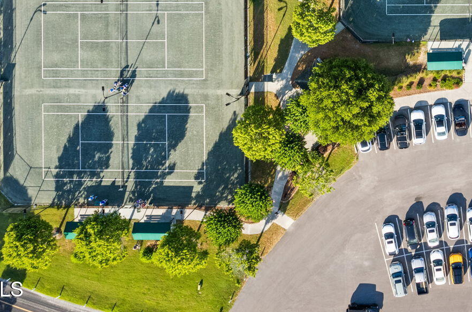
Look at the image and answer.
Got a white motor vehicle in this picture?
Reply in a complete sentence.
Yes, the frame does contain a white motor vehicle.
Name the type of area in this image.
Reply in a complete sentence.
It's a sports ground.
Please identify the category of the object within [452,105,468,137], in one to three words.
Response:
car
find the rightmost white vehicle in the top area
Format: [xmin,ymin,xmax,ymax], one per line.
[431,104,448,141]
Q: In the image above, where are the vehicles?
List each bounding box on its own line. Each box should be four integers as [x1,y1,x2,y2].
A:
[444,204,461,240]
[372,118,391,152]
[448,252,466,287]
[411,256,430,298]
[430,249,447,286]
[467,207,472,244]
[393,114,411,152]
[390,262,408,299]
[410,110,426,145]
[452,105,468,137]
[381,223,398,256]
[431,104,448,141]
[402,218,422,251]
[347,305,380,312]
[357,126,371,154]
[423,212,440,248]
